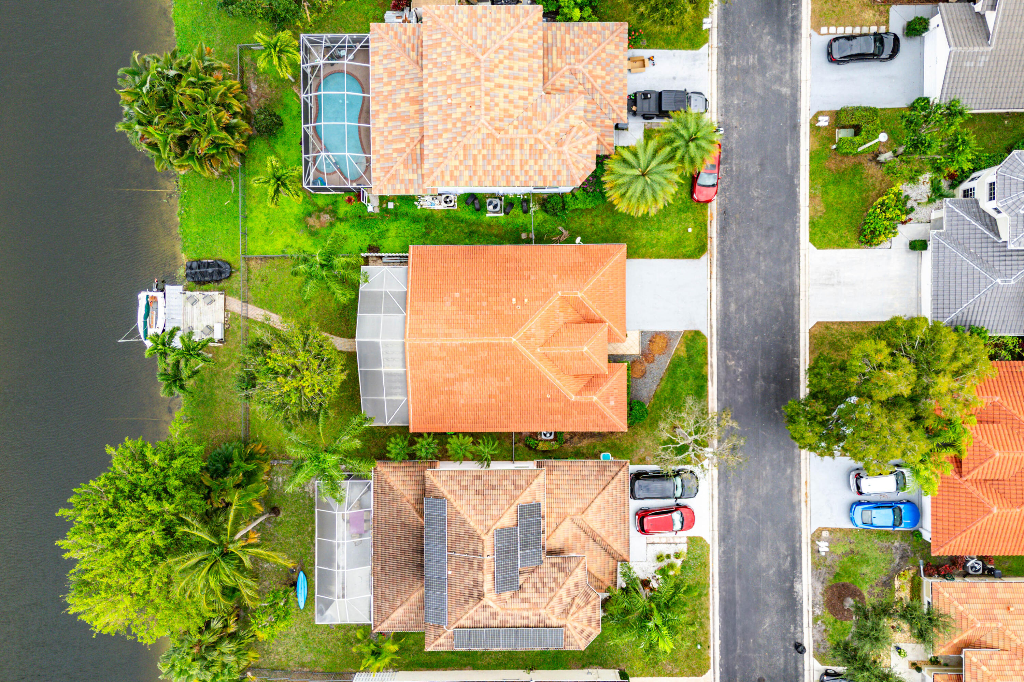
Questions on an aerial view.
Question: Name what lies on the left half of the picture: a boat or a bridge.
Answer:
boat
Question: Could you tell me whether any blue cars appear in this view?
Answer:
Yes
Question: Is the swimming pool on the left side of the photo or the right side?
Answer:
left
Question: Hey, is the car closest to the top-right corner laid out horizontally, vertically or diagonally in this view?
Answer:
horizontally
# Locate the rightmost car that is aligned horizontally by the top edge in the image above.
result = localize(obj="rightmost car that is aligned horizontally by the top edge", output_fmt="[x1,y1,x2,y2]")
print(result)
[825,30,896,68]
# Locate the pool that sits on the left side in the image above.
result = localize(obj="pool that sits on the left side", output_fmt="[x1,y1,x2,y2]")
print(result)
[312,68,370,183]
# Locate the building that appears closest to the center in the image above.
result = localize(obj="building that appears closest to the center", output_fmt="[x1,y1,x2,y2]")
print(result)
[403,242,629,434]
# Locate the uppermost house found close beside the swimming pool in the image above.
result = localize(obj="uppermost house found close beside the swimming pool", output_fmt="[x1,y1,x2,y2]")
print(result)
[369,3,629,197]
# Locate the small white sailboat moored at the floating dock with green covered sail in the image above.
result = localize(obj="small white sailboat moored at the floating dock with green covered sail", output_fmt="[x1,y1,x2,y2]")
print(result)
[116,268,161,345]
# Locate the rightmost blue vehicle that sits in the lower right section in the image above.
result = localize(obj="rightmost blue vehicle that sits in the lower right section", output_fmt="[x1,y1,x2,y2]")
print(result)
[849,499,919,532]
